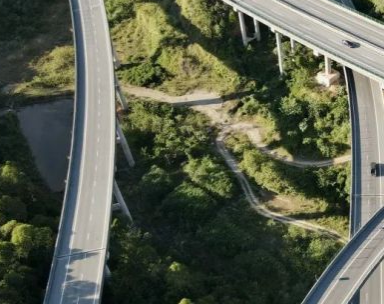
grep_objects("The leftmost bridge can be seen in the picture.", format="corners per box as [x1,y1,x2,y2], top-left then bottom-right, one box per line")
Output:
[42,0,128,304]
